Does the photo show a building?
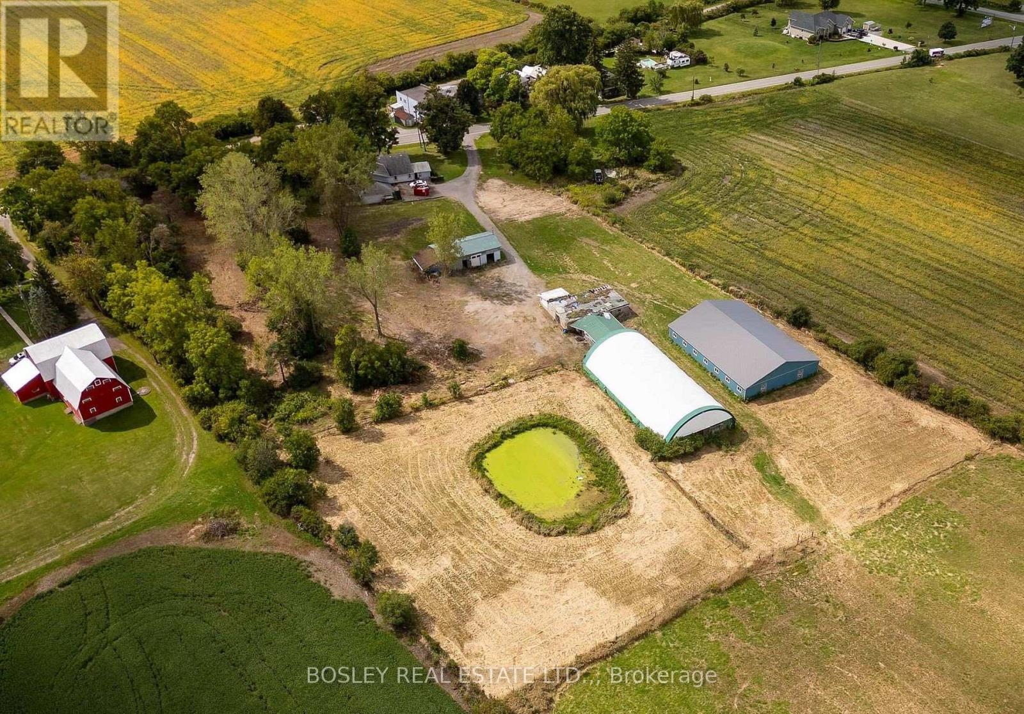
Yes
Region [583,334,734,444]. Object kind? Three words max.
barn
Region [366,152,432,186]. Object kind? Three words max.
house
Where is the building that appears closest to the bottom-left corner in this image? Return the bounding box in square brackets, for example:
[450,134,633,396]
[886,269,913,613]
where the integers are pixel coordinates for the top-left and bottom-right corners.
[1,319,132,426]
